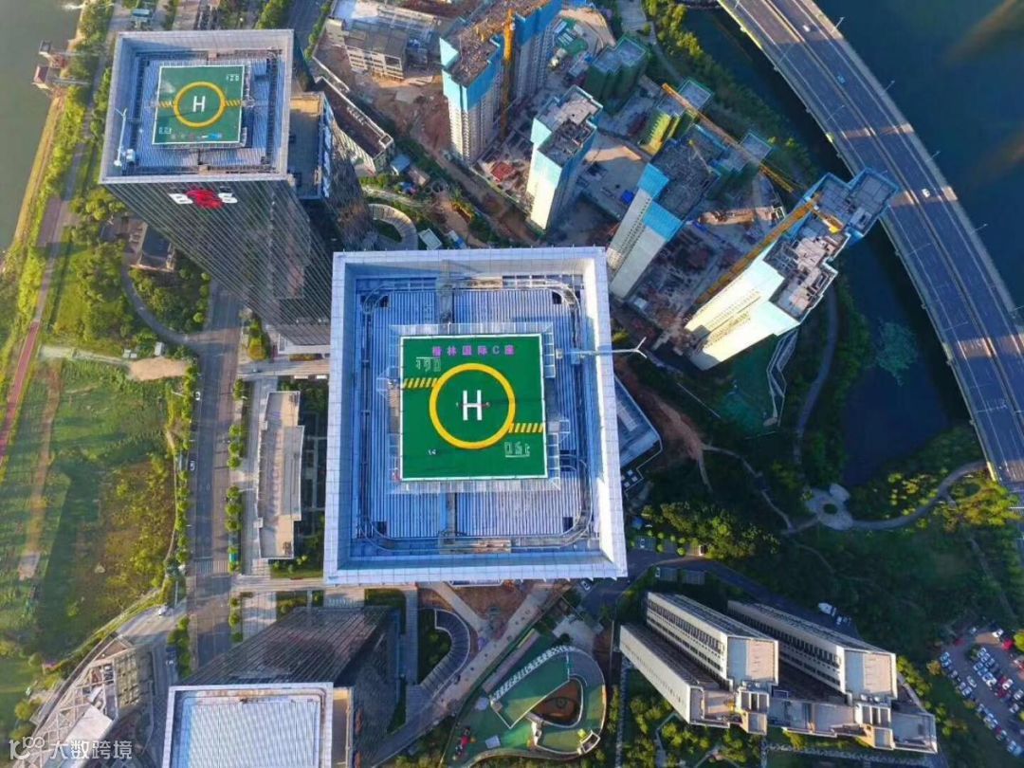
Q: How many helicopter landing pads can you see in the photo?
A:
2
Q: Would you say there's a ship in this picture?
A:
No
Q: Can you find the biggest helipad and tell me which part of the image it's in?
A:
center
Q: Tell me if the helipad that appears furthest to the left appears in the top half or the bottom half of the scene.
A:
top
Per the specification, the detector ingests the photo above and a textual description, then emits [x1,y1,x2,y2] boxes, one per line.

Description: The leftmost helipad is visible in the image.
[145,58,249,149]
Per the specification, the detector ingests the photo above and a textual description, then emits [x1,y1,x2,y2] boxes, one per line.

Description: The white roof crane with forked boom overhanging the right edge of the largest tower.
[561,338,646,367]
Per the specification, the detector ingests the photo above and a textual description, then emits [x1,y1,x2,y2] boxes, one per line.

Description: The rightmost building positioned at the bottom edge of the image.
[623,593,940,754]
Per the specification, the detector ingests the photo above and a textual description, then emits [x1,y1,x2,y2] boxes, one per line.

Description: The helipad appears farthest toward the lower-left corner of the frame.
[377,320,569,494]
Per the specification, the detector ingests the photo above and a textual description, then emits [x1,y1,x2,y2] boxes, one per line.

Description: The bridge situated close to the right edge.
[715,0,1024,565]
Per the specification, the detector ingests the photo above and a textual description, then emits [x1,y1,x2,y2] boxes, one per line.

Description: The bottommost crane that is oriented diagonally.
[694,177,851,304]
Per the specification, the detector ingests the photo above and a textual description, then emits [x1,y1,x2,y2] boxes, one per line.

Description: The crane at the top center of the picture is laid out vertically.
[472,4,520,136]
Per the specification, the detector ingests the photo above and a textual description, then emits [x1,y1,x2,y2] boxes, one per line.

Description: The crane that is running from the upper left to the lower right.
[663,85,756,169]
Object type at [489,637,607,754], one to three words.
building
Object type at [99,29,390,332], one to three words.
building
